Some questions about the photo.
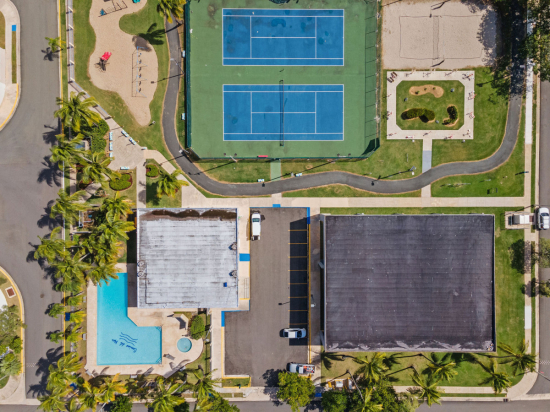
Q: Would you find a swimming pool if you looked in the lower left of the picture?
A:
Yes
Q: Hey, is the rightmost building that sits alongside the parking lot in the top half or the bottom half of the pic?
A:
bottom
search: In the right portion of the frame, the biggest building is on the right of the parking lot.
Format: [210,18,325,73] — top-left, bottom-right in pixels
[316,209,495,351]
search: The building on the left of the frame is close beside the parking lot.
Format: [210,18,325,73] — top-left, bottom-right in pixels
[136,208,238,308]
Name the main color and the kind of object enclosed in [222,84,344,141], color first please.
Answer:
blue tennis court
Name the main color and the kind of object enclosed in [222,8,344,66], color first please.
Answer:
blue tennis court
